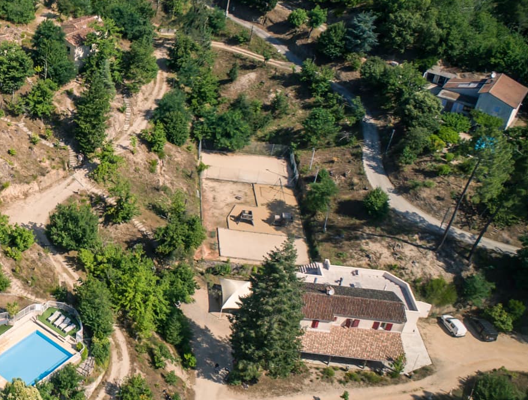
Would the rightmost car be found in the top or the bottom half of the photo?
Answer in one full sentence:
You can find the rightmost car in the bottom half.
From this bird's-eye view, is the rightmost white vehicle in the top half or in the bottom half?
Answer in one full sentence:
The rightmost white vehicle is in the bottom half of the image.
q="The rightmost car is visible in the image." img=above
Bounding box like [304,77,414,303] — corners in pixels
[467,317,501,344]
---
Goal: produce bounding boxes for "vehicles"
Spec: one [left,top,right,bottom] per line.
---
[442,313,472,339]
[467,317,501,344]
